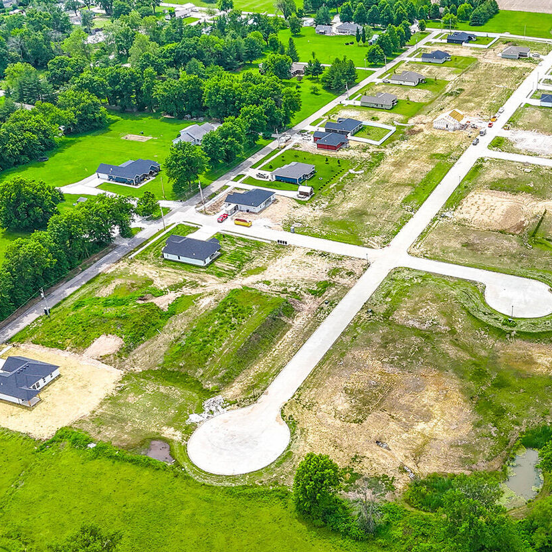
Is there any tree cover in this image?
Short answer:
Yes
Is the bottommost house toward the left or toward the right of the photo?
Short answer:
left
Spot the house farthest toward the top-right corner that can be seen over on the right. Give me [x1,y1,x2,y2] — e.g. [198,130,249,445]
[502,46,534,59]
